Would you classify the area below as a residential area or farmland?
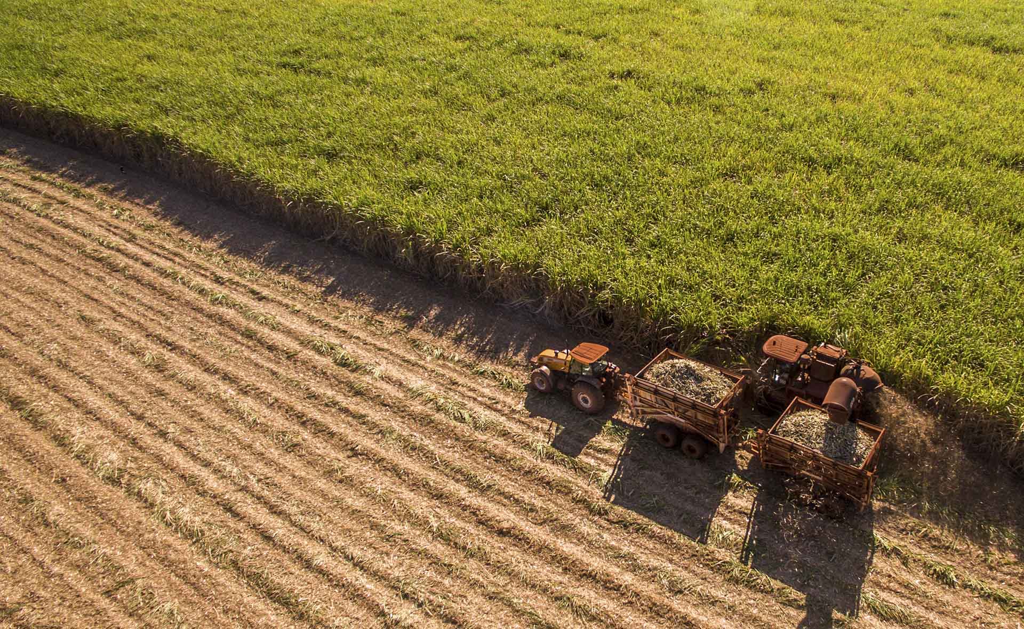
farmland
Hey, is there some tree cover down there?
No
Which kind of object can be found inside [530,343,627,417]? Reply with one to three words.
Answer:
work vehicle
